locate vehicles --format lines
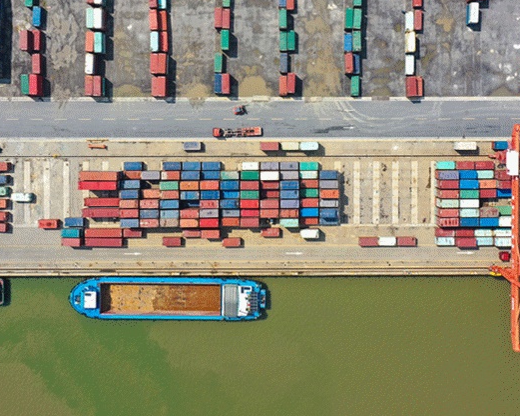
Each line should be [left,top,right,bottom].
[500,252,511,263]
[8,193,33,203]
[234,106,247,114]
[212,127,262,138]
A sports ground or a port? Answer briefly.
port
